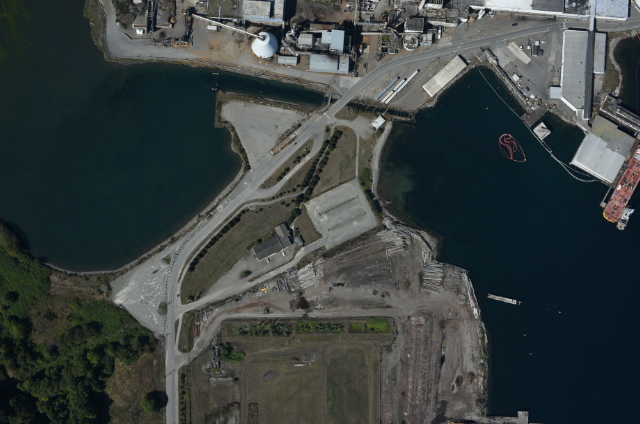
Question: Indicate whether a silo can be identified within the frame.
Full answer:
Yes, you can see a silo in this photo.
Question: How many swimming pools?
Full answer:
I count no swimming pools.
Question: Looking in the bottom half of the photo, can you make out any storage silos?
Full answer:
No, the scene shows no storage silo in the bottom half of the photo.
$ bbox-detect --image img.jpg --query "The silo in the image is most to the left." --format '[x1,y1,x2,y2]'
[252,33,279,60]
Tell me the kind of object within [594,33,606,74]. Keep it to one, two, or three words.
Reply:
building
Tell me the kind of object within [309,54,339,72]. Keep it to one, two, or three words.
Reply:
building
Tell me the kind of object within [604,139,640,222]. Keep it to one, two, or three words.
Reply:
ship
